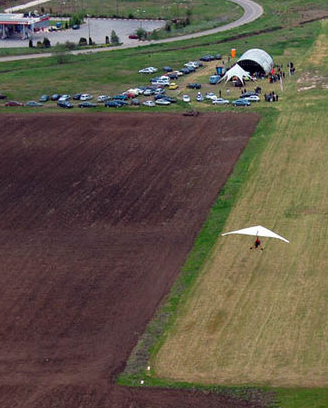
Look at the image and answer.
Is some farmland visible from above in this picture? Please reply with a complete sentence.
Yes, the picture does contain farmland.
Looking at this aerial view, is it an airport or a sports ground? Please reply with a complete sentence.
This looks like an airport.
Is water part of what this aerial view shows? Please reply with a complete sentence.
No, there's no water in this view.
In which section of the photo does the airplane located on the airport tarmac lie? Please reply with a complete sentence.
The airplane located on the airport tarmac sits in the right section of the image.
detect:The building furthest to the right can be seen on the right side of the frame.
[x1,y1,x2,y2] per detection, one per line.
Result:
[237,49,273,73]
